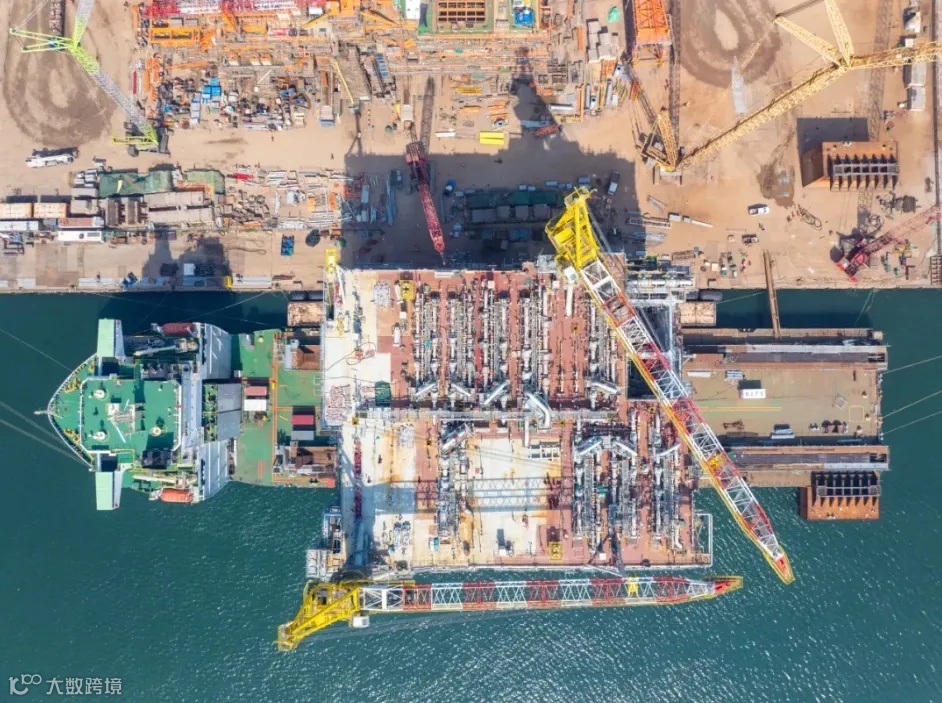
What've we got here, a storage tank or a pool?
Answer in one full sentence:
This aerial view contains a storage tank.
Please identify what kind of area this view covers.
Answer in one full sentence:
This looks like a port.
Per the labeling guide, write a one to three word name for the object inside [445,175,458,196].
vehicle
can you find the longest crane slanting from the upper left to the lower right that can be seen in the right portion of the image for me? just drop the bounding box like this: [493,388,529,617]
[528,173,800,590]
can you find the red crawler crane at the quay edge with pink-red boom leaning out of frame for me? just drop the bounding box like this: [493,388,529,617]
[828,202,942,282]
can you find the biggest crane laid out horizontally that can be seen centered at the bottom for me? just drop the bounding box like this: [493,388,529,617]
[274,569,748,661]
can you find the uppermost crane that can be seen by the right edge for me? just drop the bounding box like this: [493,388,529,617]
[632,0,942,188]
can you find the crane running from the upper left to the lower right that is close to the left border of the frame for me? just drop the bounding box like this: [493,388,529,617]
[8,0,167,170]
